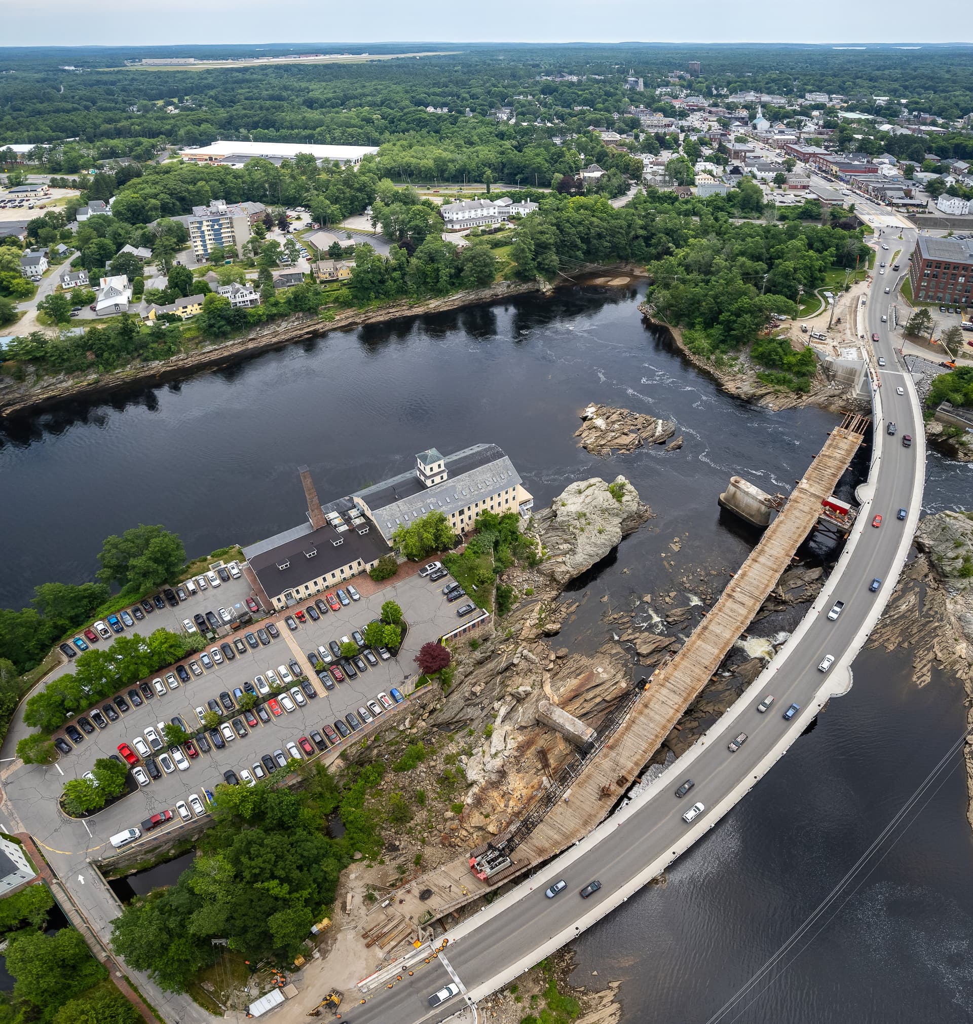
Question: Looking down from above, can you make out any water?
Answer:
Yes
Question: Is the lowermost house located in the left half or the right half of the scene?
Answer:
left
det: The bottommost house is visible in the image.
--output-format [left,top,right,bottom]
[0,789,47,891]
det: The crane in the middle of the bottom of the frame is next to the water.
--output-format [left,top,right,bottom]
[464,679,644,894]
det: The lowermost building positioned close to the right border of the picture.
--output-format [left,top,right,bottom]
[907,219,973,308]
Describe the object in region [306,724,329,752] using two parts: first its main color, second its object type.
gray truck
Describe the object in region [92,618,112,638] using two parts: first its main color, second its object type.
white vehicle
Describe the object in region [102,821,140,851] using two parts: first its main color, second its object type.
white van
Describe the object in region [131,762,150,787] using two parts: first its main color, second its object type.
white car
